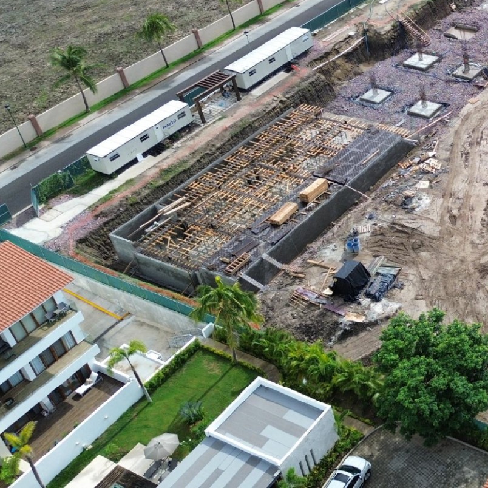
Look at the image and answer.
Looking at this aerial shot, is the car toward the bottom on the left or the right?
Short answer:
right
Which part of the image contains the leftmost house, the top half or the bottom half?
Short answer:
bottom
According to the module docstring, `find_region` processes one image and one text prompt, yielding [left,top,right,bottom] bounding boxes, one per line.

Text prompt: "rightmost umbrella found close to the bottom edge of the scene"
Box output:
[142,433,183,466]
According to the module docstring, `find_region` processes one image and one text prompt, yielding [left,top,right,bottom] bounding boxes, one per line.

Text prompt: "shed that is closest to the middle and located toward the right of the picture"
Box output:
[324,263,373,305]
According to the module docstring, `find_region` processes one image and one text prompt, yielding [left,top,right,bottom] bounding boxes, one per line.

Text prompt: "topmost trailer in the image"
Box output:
[224,27,311,90]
